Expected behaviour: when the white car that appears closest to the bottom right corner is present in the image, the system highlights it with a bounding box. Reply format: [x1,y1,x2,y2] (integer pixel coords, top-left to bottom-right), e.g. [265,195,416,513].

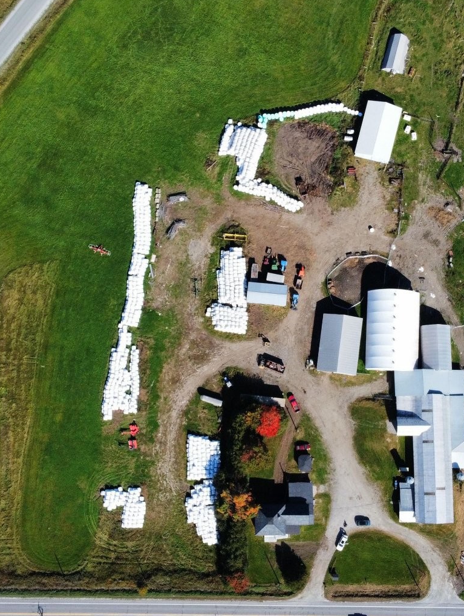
[336,532,349,550]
